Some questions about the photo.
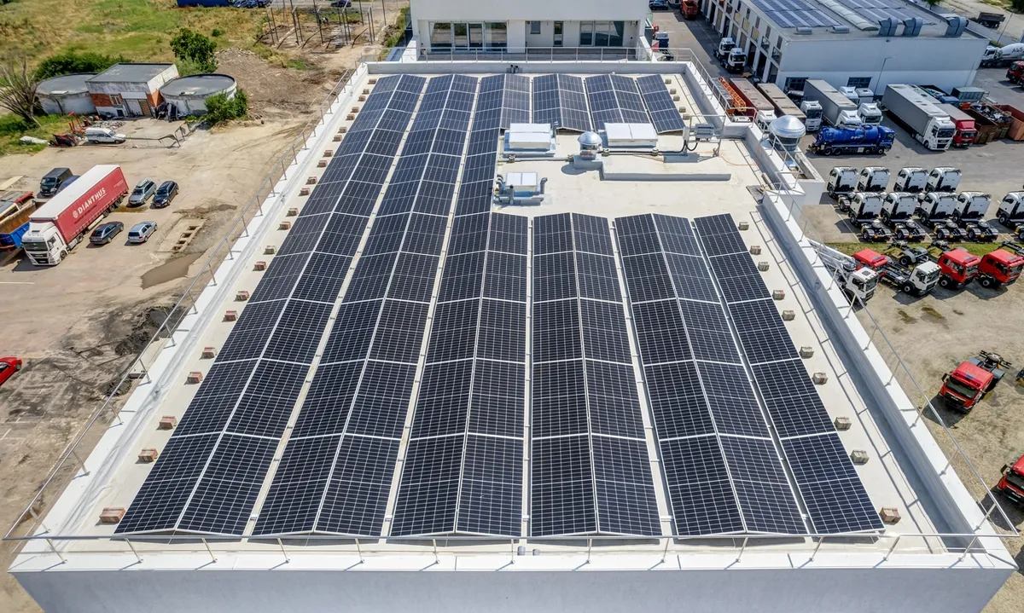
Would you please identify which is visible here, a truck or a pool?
truck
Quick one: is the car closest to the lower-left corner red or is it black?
red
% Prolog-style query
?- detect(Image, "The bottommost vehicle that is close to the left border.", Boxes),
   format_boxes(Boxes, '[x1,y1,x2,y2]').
[0,354,27,388]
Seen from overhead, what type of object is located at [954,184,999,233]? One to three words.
truck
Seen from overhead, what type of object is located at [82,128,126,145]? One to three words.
car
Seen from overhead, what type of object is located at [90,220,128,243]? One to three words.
car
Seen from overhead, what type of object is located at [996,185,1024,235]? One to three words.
truck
